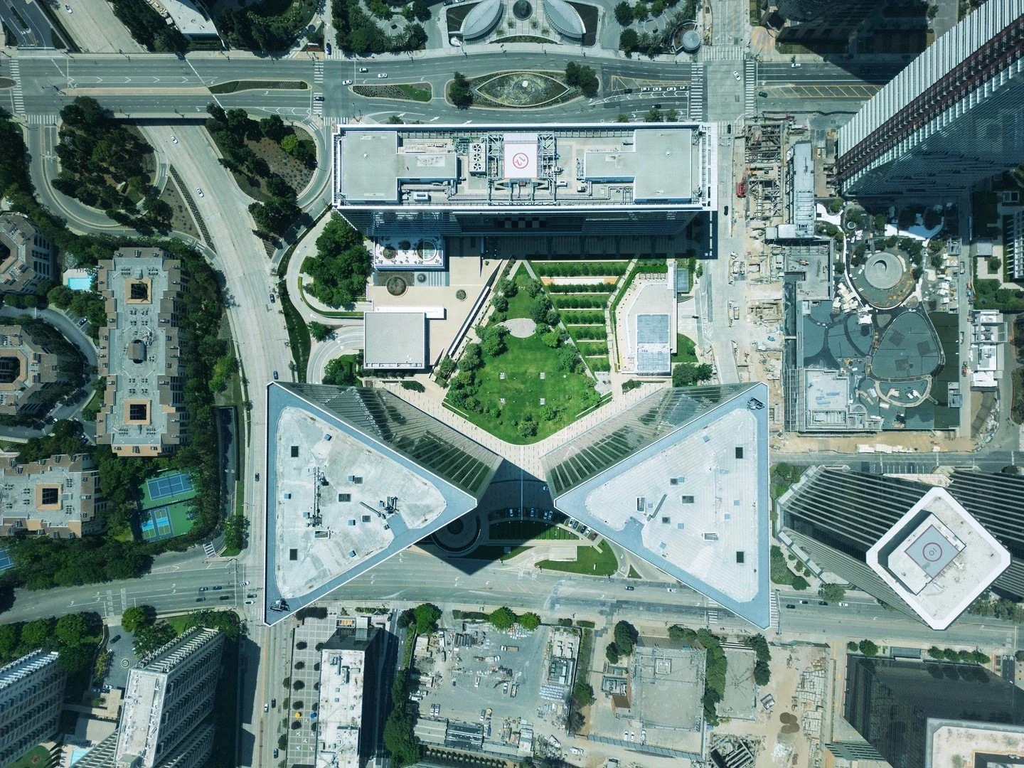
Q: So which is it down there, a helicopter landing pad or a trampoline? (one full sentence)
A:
Of the two, only a helicopter landing pad appears.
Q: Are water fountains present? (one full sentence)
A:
Yes, a water fountain is visible in the scene.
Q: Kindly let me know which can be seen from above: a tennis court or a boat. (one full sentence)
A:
It is a tennis court that can be seen here.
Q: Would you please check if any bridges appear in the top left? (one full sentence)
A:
Yes, a bridge appears in the top left.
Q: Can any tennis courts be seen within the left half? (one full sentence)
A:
Yes, you'll find a tennis court within the left half.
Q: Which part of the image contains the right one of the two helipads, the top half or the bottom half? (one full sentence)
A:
The right one of the two helipads is in the bottom half of the image.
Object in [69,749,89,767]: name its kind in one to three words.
swimming pool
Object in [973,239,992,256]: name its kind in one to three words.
shed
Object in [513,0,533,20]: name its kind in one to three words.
fountain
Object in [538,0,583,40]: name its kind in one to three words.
building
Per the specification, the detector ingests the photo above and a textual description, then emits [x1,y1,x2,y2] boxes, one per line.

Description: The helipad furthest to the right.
[904,525,959,579]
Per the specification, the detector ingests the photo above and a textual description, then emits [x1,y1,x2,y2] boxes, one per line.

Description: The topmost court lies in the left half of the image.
[137,467,202,510]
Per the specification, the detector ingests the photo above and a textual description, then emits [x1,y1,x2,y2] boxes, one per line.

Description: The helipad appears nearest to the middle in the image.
[504,133,538,178]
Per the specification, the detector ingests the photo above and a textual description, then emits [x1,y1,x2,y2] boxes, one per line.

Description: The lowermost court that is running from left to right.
[140,502,203,542]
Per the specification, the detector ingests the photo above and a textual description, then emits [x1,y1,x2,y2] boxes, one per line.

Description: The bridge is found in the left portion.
[58,50,224,119]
